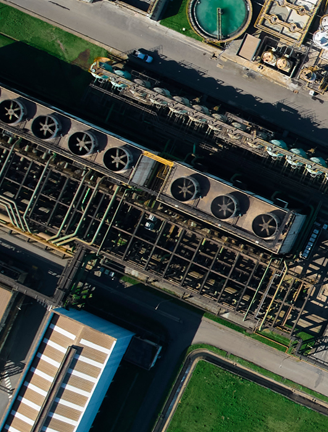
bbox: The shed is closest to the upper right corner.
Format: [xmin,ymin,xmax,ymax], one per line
[240,34,263,58]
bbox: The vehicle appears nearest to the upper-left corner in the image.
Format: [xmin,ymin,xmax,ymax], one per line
[132,49,152,62]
